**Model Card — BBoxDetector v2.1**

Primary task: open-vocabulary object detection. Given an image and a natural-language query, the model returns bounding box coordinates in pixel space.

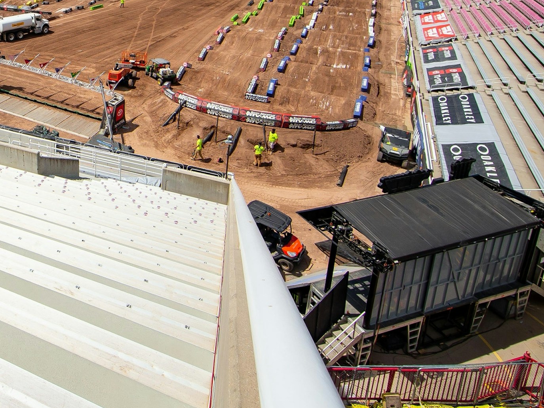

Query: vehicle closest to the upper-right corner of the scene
[375,104,416,158]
